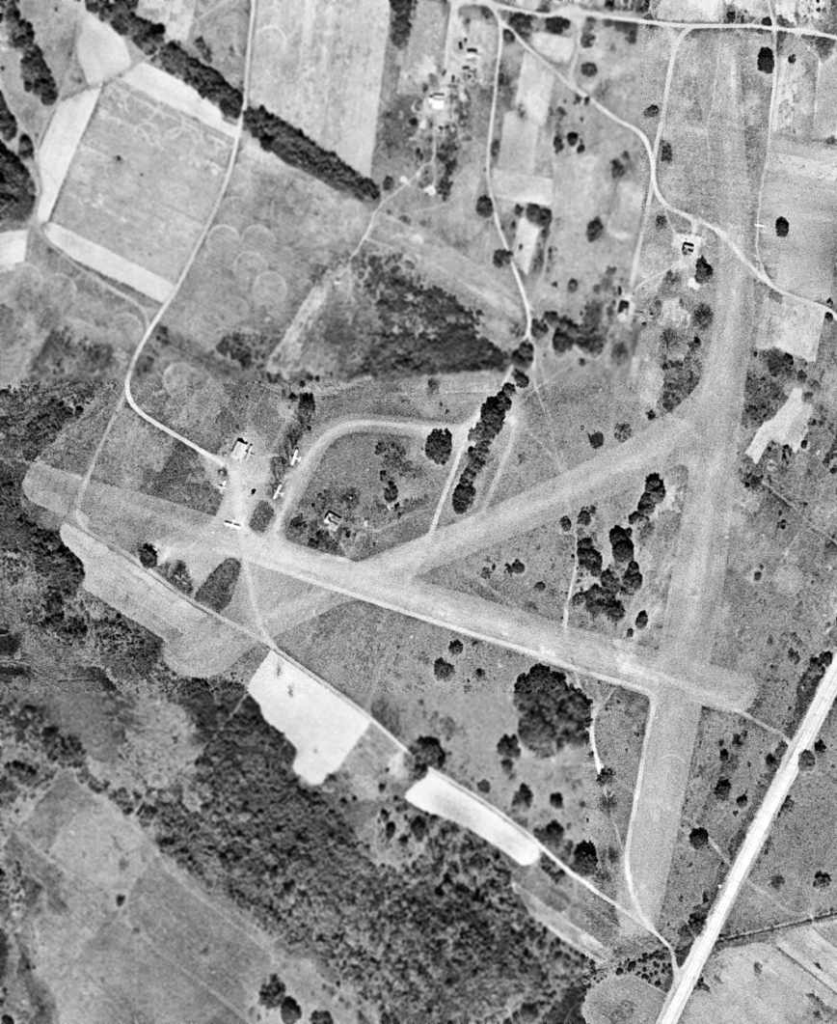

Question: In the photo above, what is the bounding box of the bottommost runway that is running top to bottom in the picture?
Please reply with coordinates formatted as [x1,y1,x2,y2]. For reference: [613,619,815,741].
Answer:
[630,239,756,925]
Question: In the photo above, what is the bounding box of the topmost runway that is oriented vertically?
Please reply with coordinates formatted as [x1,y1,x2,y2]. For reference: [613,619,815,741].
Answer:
[710,30,759,268]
